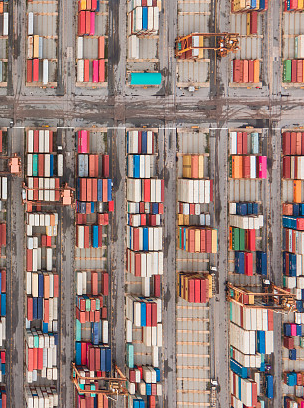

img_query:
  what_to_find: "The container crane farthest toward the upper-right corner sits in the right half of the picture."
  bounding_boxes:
[177,31,241,59]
